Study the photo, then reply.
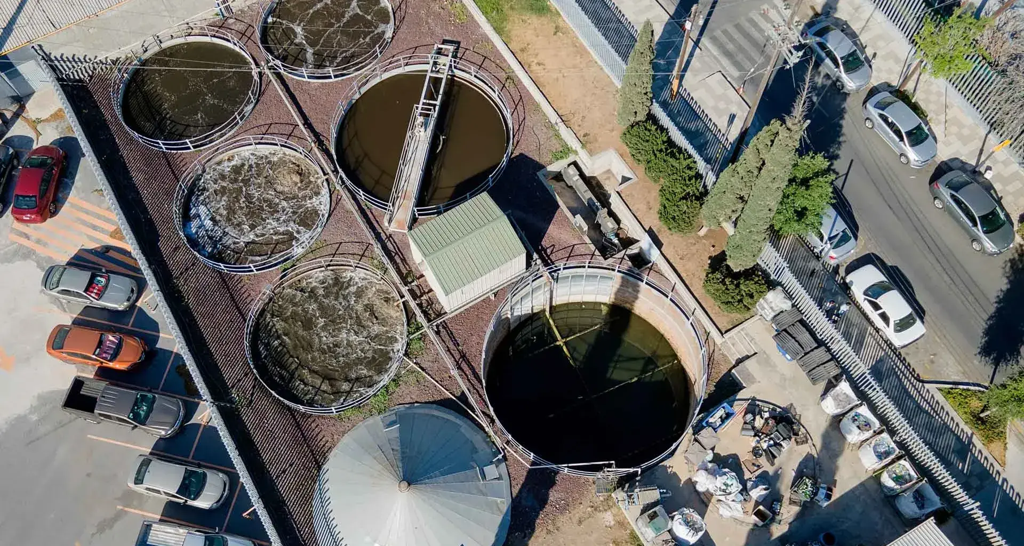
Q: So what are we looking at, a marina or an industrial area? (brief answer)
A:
industrial area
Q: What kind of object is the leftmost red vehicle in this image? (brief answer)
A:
car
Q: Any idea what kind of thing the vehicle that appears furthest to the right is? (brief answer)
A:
automobile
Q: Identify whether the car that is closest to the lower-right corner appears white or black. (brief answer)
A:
white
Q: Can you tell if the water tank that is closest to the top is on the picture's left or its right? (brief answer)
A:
left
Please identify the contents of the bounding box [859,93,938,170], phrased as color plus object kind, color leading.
gray car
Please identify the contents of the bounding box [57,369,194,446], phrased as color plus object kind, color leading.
gray truck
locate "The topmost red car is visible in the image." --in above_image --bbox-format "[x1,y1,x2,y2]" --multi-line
[16,148,73,226]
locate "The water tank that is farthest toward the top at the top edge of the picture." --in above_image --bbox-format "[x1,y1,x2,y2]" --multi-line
[253,0,392,84]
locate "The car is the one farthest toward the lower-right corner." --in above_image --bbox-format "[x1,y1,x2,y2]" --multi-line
[844,264,929,350]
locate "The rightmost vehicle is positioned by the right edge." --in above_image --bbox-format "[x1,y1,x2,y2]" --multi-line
[927,167,1015,256]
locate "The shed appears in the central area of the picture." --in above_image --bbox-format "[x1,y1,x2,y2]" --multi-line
[407,192,527,315]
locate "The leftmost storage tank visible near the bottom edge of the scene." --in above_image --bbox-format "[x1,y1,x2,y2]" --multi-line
[313,404,511,546]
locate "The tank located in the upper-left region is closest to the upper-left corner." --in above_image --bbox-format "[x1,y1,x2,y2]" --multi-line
[112,24,260,154]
